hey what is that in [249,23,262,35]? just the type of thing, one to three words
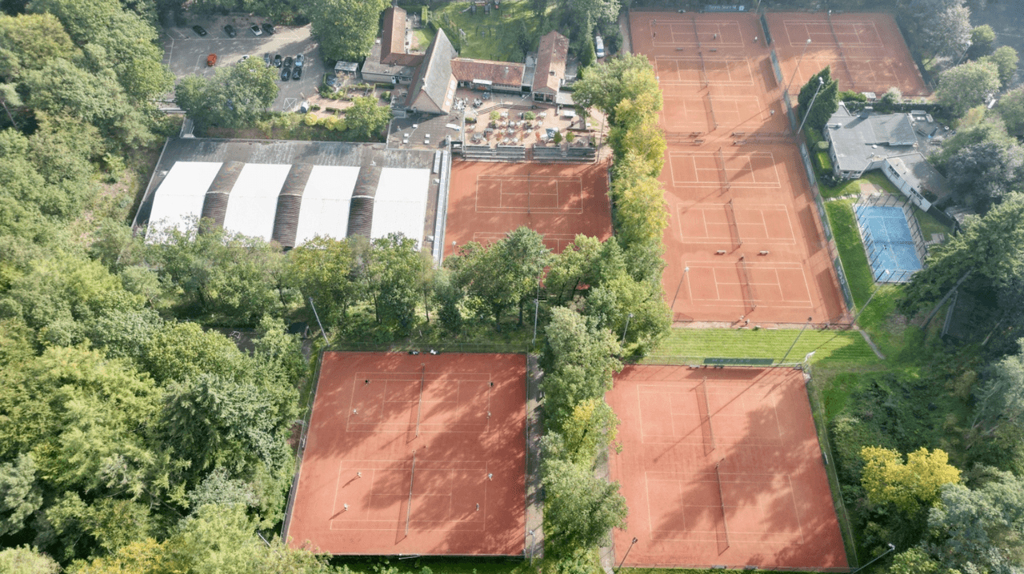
vehicle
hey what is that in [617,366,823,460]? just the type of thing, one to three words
tennis court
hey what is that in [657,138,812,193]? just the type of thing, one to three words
tennis court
